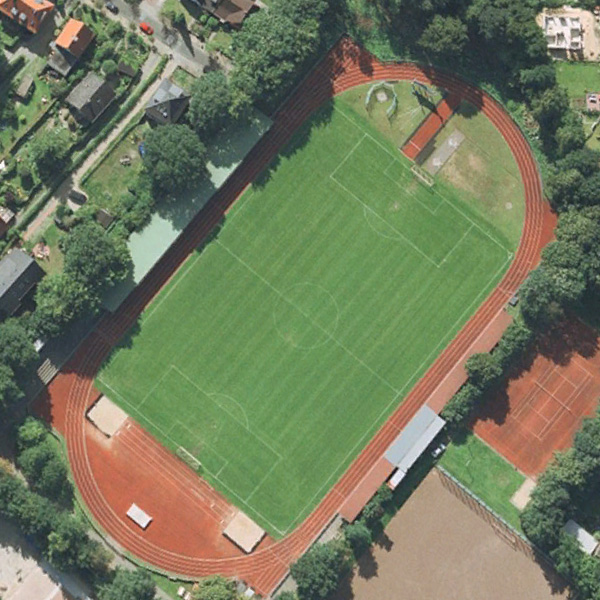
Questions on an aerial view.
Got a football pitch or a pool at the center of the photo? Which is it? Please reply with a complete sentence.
You can see a football pitch at the center of the photo.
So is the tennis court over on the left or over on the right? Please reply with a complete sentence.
The tennis court is on the right side of the image.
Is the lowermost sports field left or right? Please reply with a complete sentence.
You can find the lowermost sports field on the right side of the picture.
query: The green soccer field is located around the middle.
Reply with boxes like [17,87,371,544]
[93,96,518,539]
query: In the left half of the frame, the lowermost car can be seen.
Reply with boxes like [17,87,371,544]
[69,190,86,203]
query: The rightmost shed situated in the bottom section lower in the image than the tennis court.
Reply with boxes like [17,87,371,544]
[561,520,600,555]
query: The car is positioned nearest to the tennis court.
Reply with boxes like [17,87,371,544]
[431,445,446,458]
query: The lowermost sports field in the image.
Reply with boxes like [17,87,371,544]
[339,468,597,600]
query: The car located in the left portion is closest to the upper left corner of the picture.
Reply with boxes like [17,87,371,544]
[105,1,120,15]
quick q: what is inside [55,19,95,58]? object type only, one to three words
house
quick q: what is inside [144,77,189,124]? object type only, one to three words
house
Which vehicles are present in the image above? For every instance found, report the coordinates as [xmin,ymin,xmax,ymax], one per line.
[69,190,86,203]
[105,1,120,15]
[431,445,446,458]
[139,22,154,35]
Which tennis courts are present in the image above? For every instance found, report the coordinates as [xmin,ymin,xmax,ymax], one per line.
[474,316,600,486]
